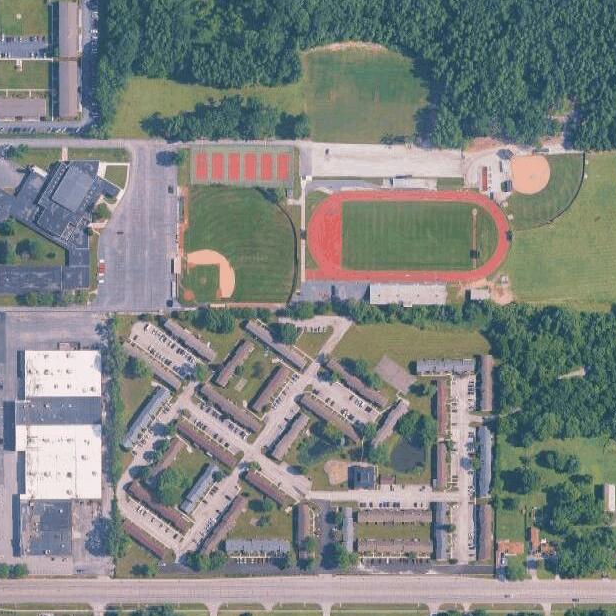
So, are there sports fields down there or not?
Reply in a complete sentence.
Yes, a sports field appears in the view.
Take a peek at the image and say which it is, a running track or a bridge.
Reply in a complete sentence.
I can see a running track in this picture.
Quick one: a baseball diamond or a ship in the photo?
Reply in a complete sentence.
Of the two, only a baseball diamond appears.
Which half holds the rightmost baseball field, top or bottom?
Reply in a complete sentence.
The rightmost baseball field sits in the top half of the picture.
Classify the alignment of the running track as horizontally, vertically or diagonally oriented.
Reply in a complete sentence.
The running track is oriented horizontally.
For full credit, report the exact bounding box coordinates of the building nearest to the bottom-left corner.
[21,499,72,556]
